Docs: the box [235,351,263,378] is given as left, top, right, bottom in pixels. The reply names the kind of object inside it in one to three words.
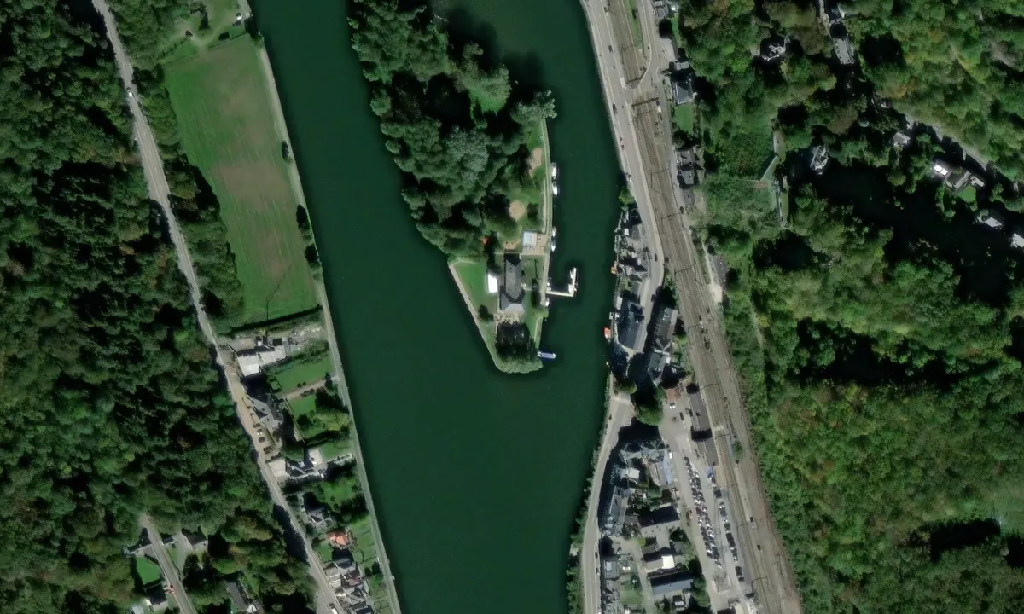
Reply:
barn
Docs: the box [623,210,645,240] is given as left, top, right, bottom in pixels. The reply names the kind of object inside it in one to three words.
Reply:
house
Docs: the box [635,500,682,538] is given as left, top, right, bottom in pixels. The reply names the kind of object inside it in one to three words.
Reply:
building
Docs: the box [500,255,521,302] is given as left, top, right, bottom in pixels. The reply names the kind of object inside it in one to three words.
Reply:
building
